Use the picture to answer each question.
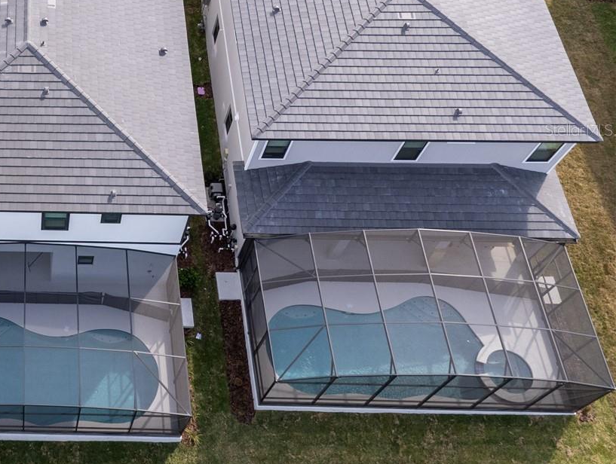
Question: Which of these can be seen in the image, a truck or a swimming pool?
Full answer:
I can see a swimming pool in this picture.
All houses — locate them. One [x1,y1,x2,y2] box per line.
[0,0,211,281]
[201,0,603,266]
